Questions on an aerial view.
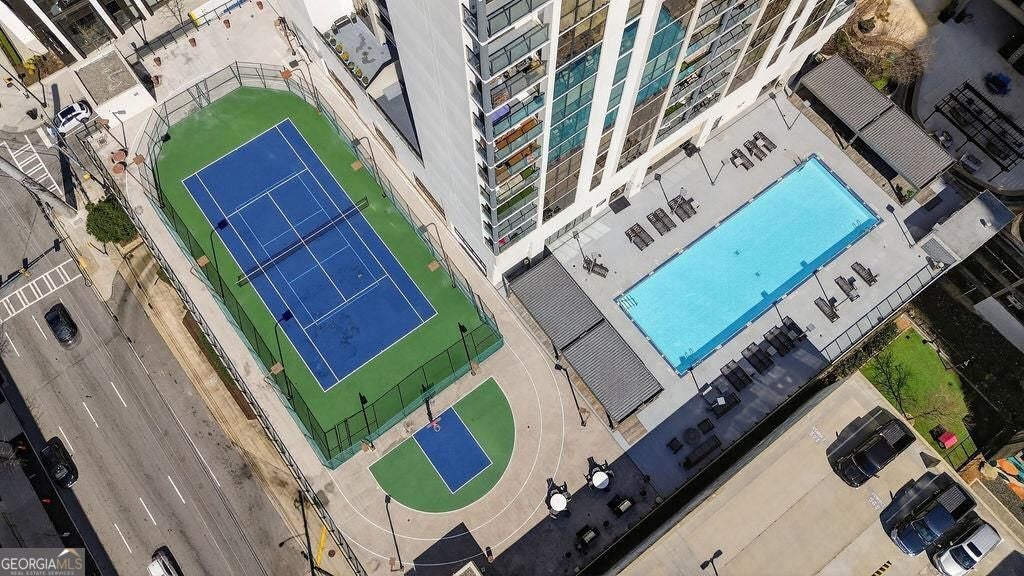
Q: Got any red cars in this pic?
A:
No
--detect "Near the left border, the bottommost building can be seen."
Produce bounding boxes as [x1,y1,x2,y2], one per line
[0,380,103,576]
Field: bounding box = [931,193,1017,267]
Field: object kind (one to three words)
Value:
building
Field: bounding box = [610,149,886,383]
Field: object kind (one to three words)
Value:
swimming pool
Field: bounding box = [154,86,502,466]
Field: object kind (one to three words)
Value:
tennis court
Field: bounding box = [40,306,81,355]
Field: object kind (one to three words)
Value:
car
